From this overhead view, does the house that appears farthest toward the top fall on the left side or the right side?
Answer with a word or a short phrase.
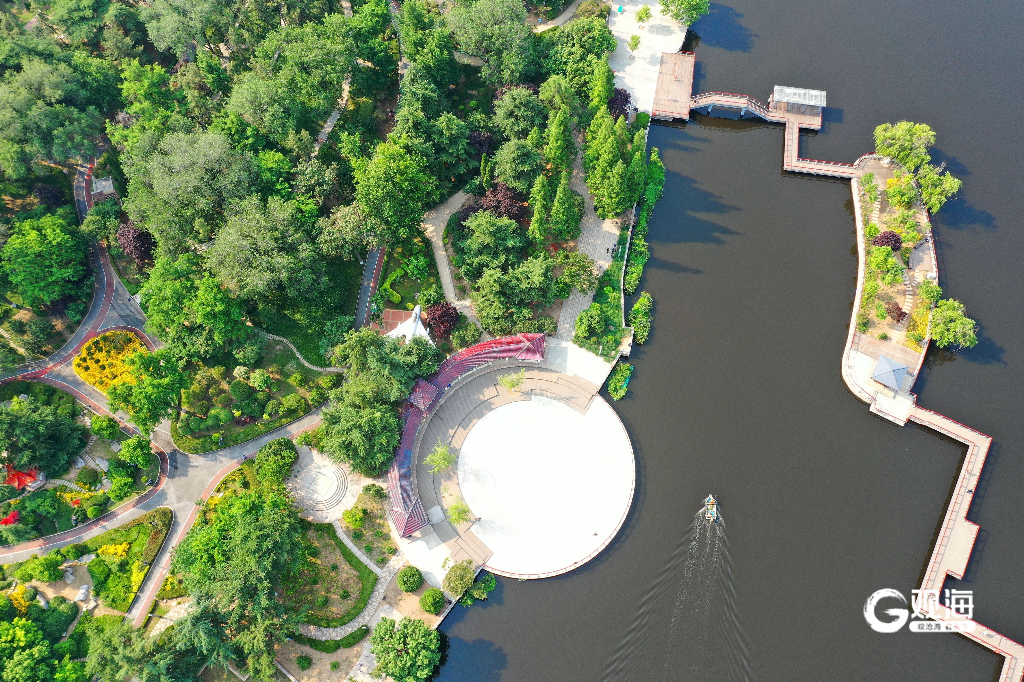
left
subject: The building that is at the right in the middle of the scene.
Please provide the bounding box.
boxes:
[867,352,910,394]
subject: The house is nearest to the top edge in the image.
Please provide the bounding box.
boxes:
[90,175,122,210]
